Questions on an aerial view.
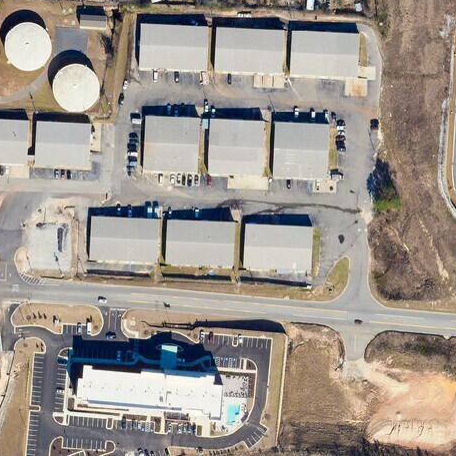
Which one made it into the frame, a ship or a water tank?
water tank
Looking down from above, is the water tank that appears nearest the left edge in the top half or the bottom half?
top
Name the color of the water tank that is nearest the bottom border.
white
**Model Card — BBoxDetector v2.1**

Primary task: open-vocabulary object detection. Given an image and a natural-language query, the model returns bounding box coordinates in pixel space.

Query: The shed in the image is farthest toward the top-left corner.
[81,14,107,29]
